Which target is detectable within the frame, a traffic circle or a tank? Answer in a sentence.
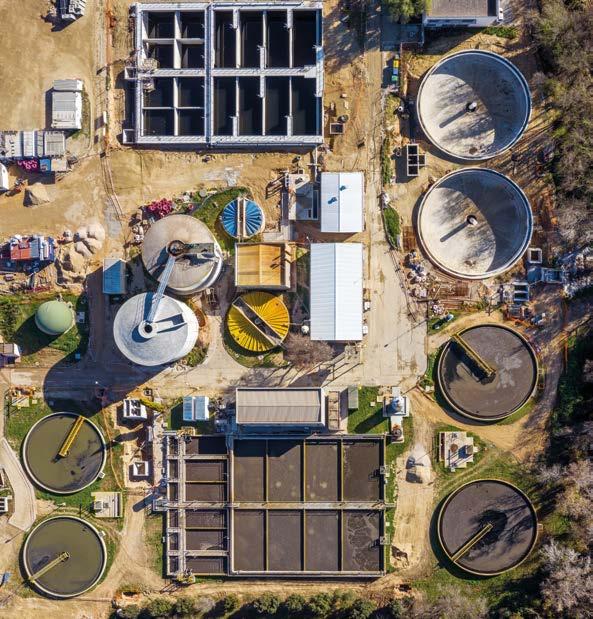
The one in the frame is a tank.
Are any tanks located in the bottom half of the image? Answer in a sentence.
Yes, the scene does show a tank in the bottom half of the image.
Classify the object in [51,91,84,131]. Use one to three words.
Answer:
building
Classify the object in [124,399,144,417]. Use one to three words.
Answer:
shed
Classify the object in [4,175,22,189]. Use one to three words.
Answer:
vehicle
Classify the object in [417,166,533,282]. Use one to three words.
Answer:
storage tank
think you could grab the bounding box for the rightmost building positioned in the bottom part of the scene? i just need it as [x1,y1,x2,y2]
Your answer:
[438,431,478,472]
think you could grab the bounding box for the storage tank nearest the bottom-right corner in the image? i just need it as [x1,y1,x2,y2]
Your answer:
[436,476,543,578]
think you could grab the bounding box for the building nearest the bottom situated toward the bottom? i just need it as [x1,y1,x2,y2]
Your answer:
[91,491,123,517]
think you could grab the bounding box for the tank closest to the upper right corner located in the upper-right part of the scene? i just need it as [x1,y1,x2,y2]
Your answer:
[417,48,531,163]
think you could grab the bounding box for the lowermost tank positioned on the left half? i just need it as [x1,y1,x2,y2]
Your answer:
[22,514,108,599]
